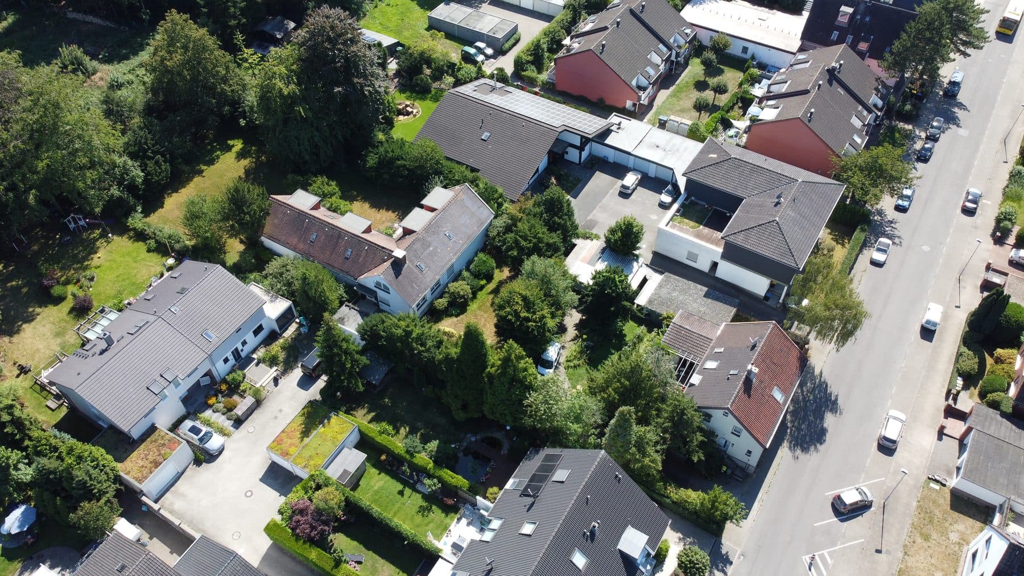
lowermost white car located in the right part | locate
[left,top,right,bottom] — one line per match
[832,484,878,513]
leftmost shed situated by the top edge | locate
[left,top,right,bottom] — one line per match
[246,15,301,51]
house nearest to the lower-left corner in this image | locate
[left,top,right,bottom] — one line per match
[70,529,173,576]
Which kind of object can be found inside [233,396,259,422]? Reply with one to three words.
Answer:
building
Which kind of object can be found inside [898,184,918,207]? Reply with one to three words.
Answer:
car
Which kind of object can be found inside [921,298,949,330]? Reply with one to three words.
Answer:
van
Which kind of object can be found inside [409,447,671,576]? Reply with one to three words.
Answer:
house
